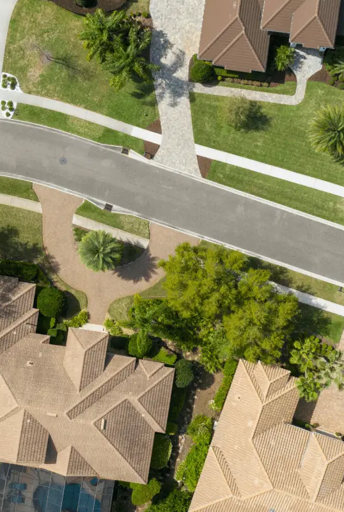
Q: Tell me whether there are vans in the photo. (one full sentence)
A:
No, there's no van here.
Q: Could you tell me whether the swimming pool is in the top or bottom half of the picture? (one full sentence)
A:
Seen from above, the swimming pool lies in the bottom half of the view.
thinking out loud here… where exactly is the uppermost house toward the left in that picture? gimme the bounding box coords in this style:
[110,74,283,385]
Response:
[0,275,175,486]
